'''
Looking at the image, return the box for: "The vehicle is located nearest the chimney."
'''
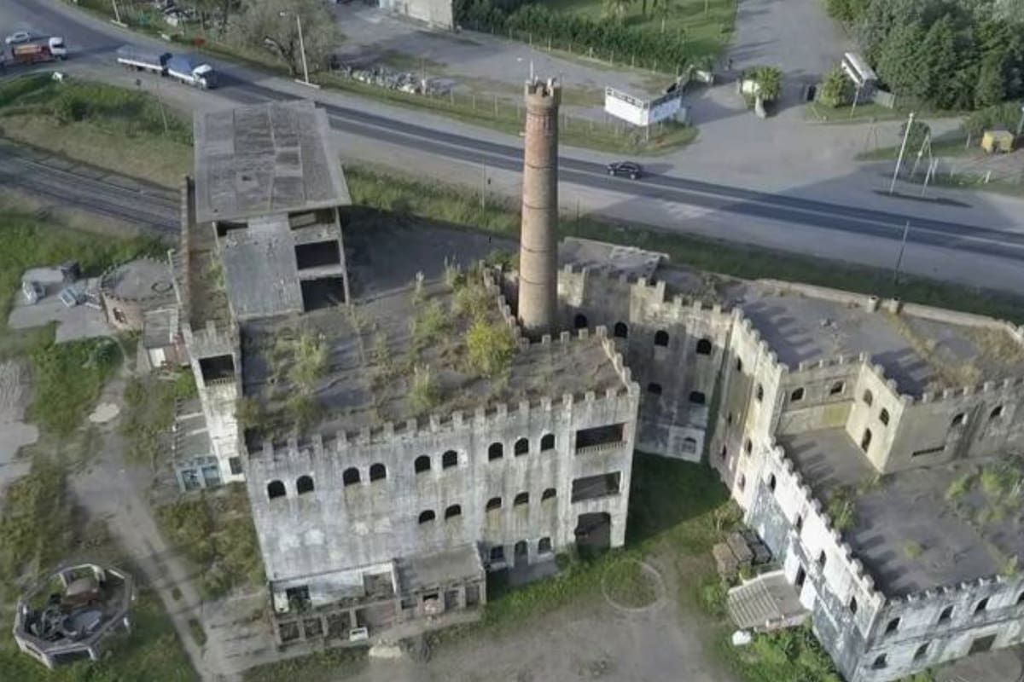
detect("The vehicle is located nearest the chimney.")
[607,164,644,182]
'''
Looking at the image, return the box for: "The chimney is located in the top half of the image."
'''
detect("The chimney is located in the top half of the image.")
[511,55,561,344]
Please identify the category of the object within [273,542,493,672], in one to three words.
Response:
building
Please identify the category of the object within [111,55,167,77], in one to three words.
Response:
trailer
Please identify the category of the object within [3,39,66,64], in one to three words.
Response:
truck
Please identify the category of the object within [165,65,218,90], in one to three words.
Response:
truck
